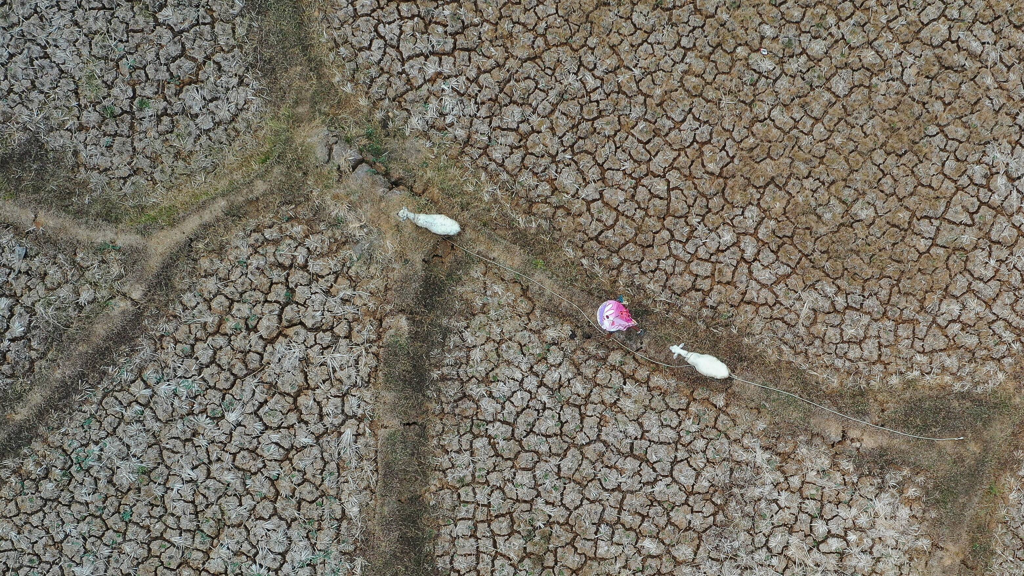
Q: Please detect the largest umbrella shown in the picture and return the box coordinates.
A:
[596,300,637,332]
